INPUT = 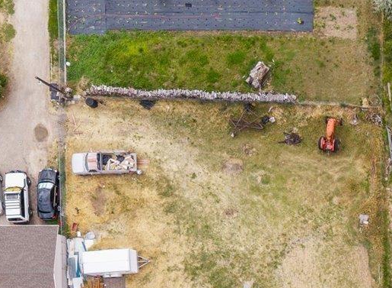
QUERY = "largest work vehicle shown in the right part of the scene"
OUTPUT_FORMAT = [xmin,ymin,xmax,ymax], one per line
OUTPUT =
[319,116,342,155]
